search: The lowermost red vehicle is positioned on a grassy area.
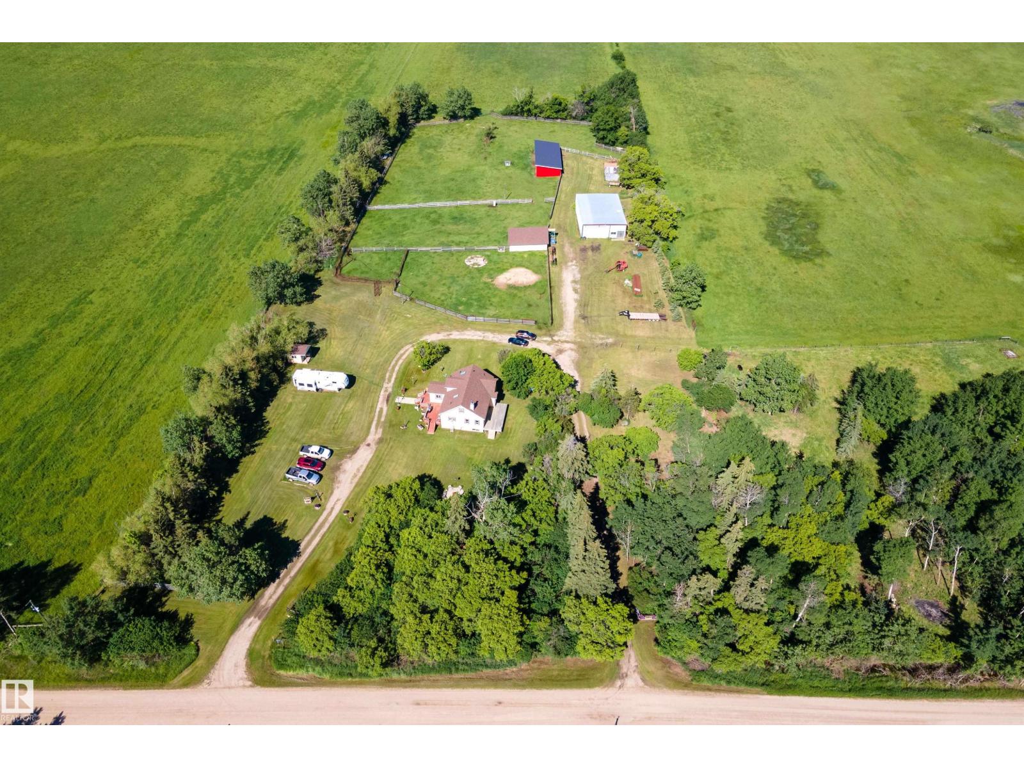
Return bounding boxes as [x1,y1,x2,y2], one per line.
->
[297,456,323,471]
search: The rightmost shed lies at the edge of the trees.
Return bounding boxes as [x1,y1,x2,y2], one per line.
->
[575,193,628,240]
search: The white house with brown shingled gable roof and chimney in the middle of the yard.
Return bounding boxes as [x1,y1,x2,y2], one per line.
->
[416,364,510,438]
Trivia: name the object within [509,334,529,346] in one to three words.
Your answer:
vehicle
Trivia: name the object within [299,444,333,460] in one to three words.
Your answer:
vehicle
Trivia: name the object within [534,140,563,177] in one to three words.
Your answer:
shed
